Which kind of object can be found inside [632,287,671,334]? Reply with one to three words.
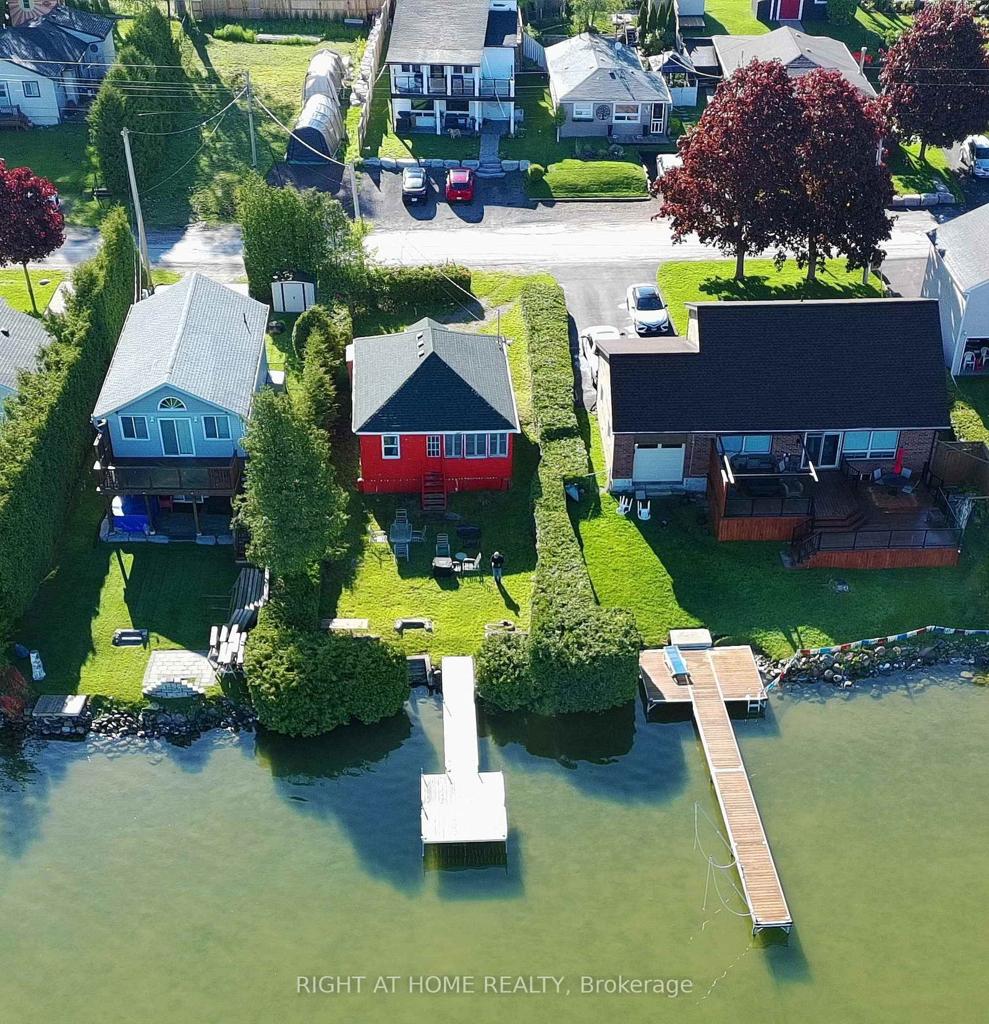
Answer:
car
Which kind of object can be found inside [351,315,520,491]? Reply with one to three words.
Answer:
house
